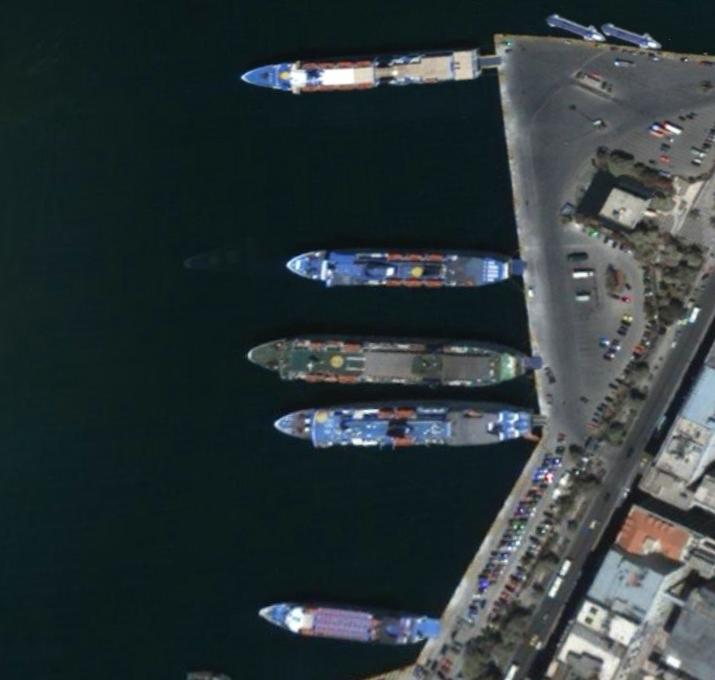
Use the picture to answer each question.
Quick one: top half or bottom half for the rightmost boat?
top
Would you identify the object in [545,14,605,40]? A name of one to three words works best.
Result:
boat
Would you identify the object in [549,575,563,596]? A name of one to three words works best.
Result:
vehicle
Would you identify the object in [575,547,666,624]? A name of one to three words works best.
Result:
building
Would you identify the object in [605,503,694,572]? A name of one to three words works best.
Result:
house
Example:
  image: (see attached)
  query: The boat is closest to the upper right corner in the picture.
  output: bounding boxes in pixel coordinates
[600,23,661,47]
